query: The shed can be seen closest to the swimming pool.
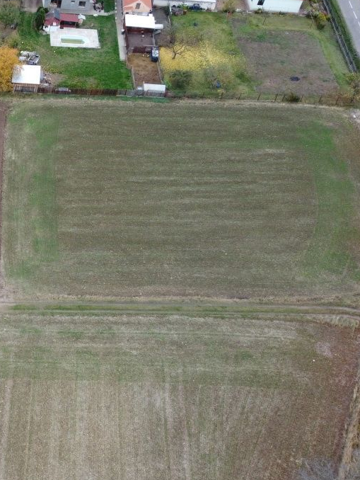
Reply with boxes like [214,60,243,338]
[44,12,80,34]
